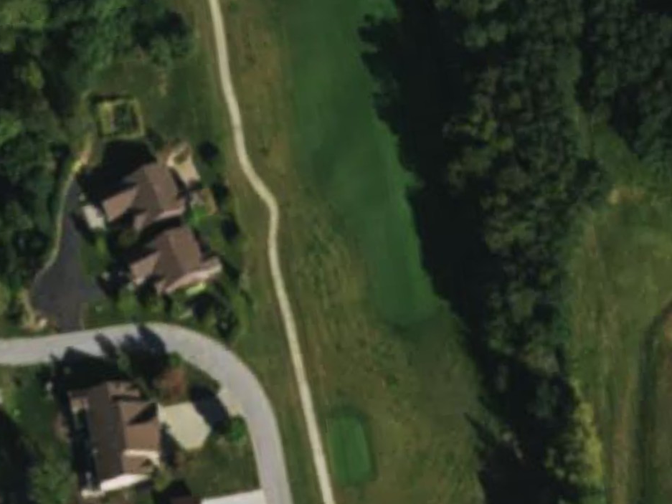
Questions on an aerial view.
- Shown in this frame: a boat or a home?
home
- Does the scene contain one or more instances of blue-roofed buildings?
No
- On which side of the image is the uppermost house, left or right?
left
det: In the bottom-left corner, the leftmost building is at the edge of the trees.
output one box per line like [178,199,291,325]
[73,384,164,487]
